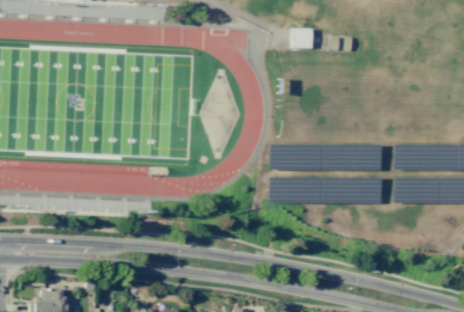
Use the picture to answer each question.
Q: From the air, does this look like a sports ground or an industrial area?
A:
sports ground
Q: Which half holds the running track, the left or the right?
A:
left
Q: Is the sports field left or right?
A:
left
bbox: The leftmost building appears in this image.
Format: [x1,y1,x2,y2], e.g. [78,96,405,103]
[36,289,68,312]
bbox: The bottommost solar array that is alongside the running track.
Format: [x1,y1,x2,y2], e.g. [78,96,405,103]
[270,178,382,204]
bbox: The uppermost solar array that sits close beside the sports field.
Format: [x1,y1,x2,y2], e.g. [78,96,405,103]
[270,145,382,170]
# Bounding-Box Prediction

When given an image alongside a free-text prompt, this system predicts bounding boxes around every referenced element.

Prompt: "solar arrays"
[394,178,464,204]
[270,178,382,204]
[394,145,464,170]
[270,145,382,170]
